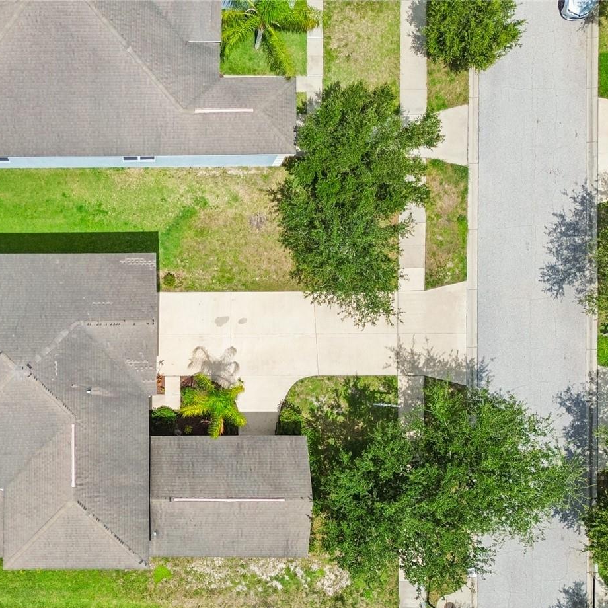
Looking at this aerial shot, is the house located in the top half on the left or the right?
left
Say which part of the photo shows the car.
top right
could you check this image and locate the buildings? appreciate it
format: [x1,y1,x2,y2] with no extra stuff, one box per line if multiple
[0,0,296,168]
[0,253,315,571]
